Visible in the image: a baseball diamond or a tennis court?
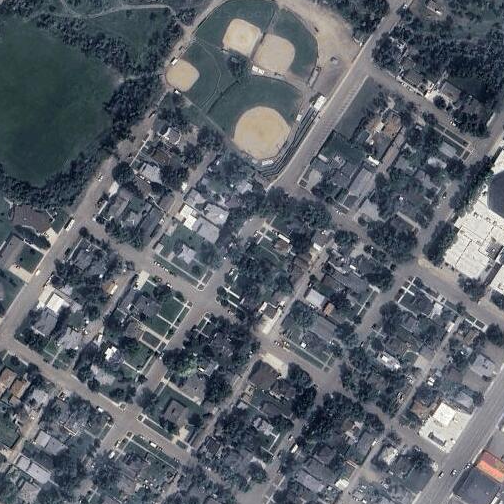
baseball diamond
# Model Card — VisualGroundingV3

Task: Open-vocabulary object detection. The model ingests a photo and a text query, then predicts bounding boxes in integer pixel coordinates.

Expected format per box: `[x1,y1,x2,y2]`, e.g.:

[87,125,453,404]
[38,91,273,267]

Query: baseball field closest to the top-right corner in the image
[254,8,317,79]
